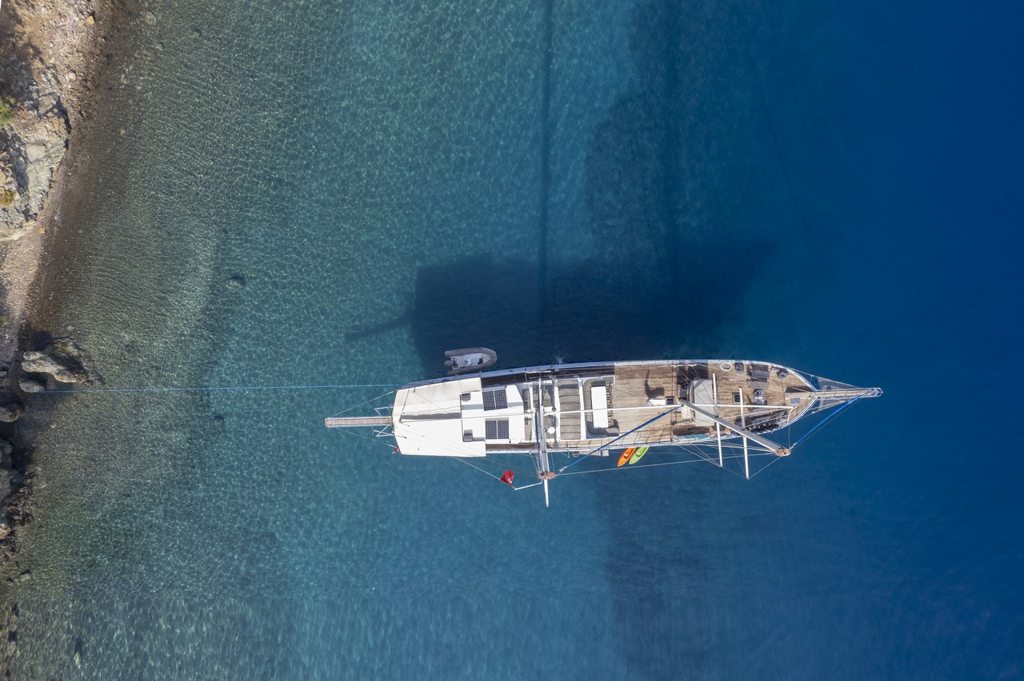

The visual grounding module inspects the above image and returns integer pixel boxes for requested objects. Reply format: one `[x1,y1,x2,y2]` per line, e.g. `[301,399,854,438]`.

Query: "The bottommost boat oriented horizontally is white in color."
[324,361,885,507]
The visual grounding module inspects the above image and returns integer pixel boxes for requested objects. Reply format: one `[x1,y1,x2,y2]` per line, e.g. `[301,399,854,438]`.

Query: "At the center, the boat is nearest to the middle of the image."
[444,346,498,375]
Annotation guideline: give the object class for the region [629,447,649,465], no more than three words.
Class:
boat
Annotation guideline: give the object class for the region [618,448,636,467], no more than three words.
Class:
boat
